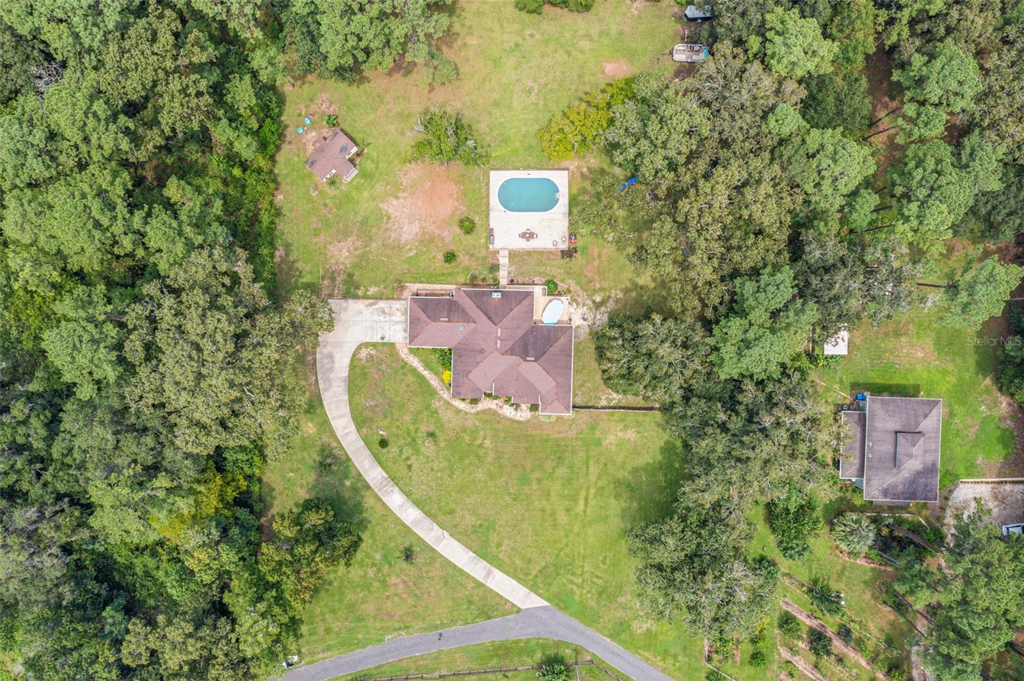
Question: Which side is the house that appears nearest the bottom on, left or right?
right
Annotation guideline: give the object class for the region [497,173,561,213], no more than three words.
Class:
swimming pool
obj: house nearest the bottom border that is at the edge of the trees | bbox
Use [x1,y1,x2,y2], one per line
[833,396,943,506]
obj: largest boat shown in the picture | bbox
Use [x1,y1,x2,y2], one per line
[673,42,713,61]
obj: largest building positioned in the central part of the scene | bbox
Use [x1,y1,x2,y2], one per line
[408,288,574,415]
